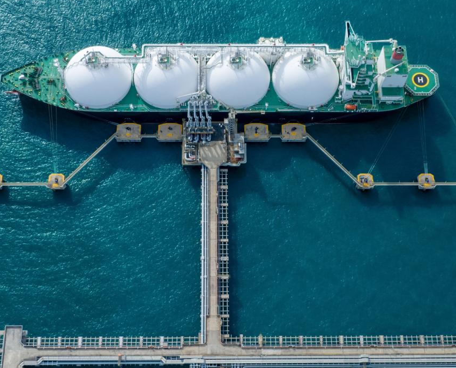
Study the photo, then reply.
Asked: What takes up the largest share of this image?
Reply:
water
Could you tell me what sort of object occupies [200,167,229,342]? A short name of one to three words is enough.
pier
